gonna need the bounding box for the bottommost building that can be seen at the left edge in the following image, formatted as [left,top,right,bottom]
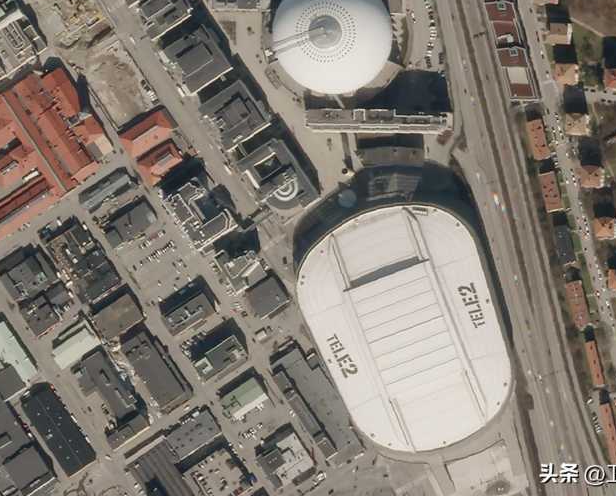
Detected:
[4,447,57,496]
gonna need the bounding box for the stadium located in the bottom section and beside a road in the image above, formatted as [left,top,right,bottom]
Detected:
[297,206,513,453]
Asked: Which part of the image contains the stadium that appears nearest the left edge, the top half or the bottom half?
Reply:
top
